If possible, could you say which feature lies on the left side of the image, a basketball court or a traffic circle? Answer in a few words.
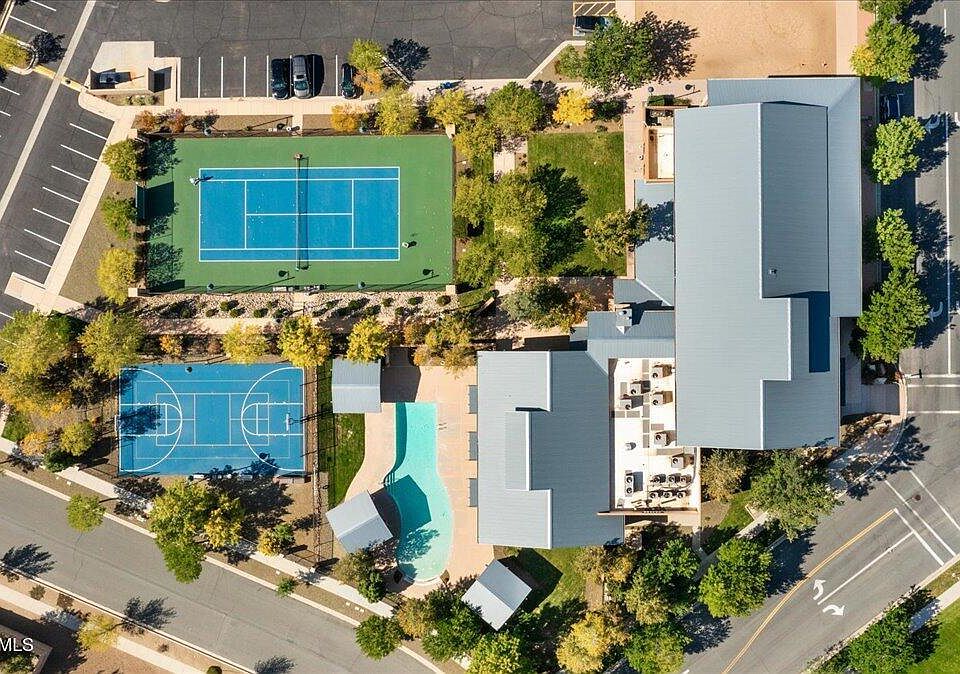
basketball court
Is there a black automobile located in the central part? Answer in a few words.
No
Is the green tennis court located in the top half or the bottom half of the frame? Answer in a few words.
top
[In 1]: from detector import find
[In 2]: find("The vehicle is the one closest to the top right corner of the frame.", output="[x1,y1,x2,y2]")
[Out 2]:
[881,87,902,126]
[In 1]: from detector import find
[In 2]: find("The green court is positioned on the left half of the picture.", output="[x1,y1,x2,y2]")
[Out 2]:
[145,135,453,292]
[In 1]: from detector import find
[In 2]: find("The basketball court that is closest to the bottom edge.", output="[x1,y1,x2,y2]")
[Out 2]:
[118,363,305,474]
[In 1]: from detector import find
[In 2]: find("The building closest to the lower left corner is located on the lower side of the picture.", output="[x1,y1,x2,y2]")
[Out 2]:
[326,491,392,553]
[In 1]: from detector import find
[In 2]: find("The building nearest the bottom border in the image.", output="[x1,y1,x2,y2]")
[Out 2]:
[462,558,532,630]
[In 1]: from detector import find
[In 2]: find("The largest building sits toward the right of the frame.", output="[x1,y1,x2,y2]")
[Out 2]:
[469,78,862,549]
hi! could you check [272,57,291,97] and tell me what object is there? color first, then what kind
black car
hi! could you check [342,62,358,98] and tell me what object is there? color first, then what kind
black car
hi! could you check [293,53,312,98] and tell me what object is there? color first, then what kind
gray car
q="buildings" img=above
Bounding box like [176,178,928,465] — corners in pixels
[469,78,862,549]
[331,357,381,413]
[326,491,392,553]
[462,558,532,630]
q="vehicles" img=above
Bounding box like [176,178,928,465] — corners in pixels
[342,62,358,98]
[272,57,291,97]
[881,87,902,126]
[573,13,616,33]
[293,53,312,98]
